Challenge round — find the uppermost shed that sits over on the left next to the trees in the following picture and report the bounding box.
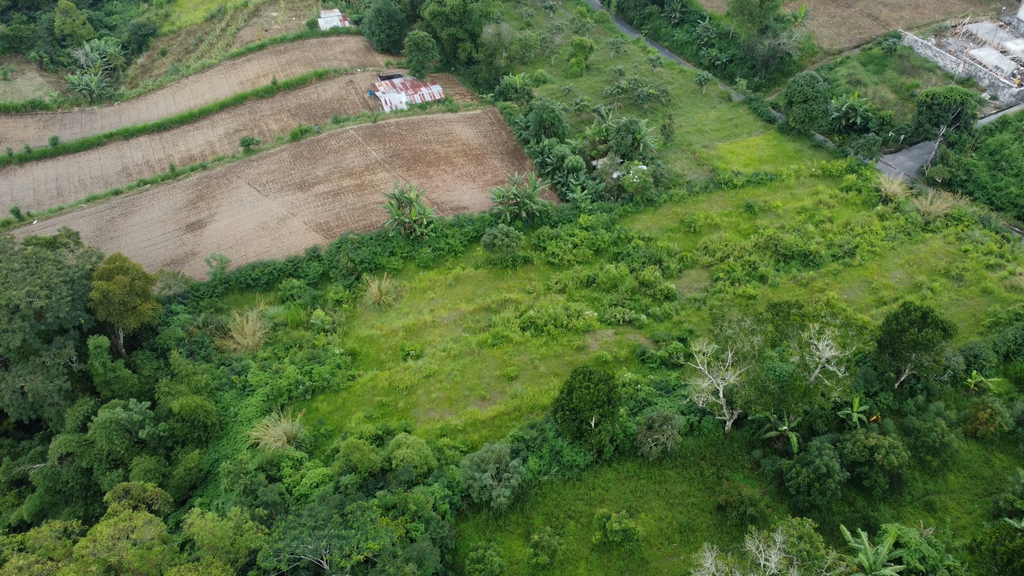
[318,8,350,30]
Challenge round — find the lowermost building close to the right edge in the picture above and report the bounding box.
[937,13,1024,85]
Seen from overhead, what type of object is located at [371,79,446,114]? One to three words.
shed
